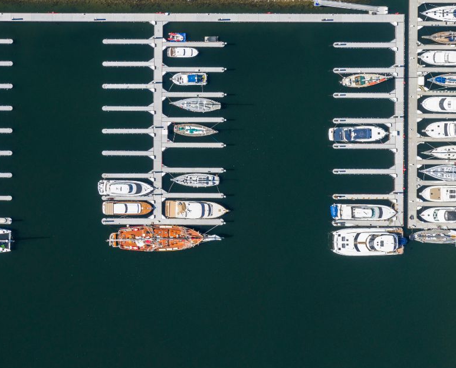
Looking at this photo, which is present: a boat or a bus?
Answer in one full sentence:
The one in the frame is a boat.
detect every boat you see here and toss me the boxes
[428,72,456,88]
[330,203,400,222]
[413,229,456,244]
[167,48,199,57]
[421,30,456,45]
[172,174,219,190]
[169,71,207,86]
[416,165,456,181]
[164,200,230,220]
[174,123,219,137]
[204,36,219,42]
[97,180,155,196]
[417,186,456,202]
[330,227,406,255]
[166,33,184,42]
[416,207,456,225]
[0,228,14,252]
[417,48,456,66]
[170,97,220,115]
[418,94,456,113]
[424,146,456,159]
[422,120,456,138]
[102,199,156,218]
[327,125,390,145]
[340,72,402,90]
[419,6,456,21]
